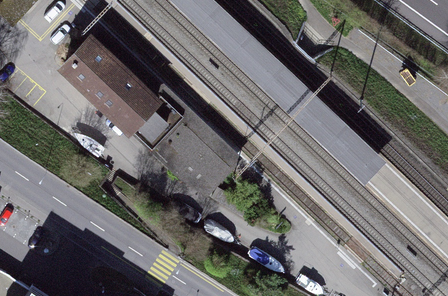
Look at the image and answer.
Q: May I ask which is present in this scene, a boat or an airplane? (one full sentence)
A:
Looking from above, you can make out a boat.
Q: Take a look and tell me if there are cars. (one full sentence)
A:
Yes, there is a car in the image.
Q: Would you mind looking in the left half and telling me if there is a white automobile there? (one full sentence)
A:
Yes, a white automobile can be seen in the left half.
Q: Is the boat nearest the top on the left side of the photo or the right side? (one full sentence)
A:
The boat nearest the top appears in the left half of the scene.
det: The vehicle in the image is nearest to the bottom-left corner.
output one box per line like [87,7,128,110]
[28,225,42,248]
